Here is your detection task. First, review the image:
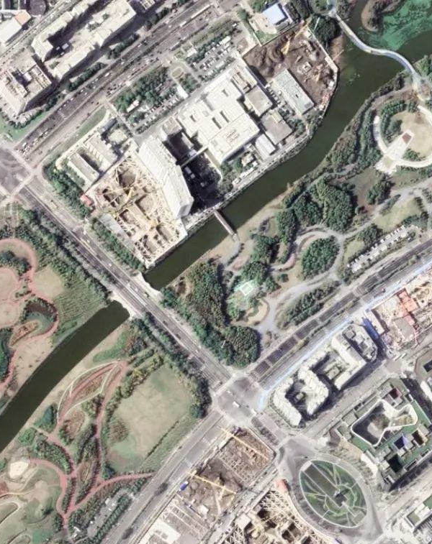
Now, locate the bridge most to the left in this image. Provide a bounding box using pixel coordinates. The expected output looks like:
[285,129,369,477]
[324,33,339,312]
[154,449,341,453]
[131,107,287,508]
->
[97,257,174,328]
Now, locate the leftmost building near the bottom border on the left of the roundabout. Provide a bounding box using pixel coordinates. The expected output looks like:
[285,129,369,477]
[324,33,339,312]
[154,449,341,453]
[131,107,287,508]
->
[151,520,179,544]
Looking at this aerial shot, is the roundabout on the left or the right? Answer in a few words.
right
